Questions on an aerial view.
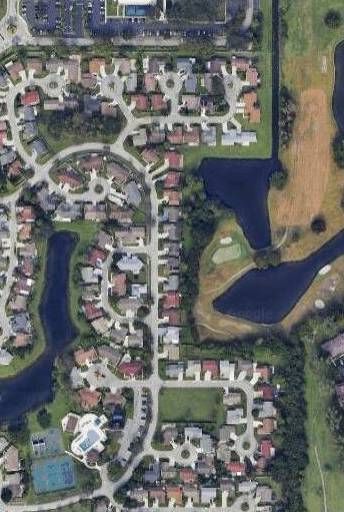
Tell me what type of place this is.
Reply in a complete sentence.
What you see here is a residential area.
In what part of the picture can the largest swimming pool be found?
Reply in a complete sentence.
The largest swimming pool is in the bottom left part of the image.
